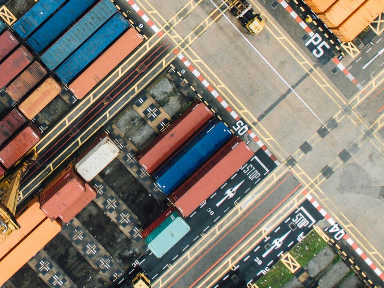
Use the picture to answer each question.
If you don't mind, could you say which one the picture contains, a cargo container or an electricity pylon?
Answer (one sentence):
It is a cargo container that can be seen here.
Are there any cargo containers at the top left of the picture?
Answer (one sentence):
Yes, the scene does show a cargo container at the top left of the picture.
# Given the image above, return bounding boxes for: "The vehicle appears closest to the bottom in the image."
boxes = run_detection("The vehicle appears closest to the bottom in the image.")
[119,268,158,288]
